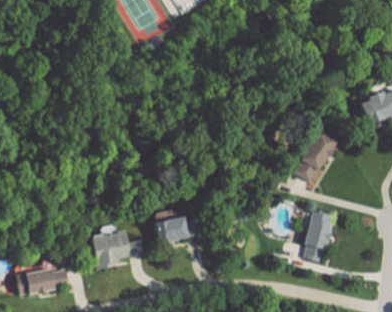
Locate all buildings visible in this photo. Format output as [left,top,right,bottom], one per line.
[166,218,194,242]
[17,270,69,298]
[296,134,338,183]
[364,92,392,123]
[304,212,334,264]
[93,230,142,270]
